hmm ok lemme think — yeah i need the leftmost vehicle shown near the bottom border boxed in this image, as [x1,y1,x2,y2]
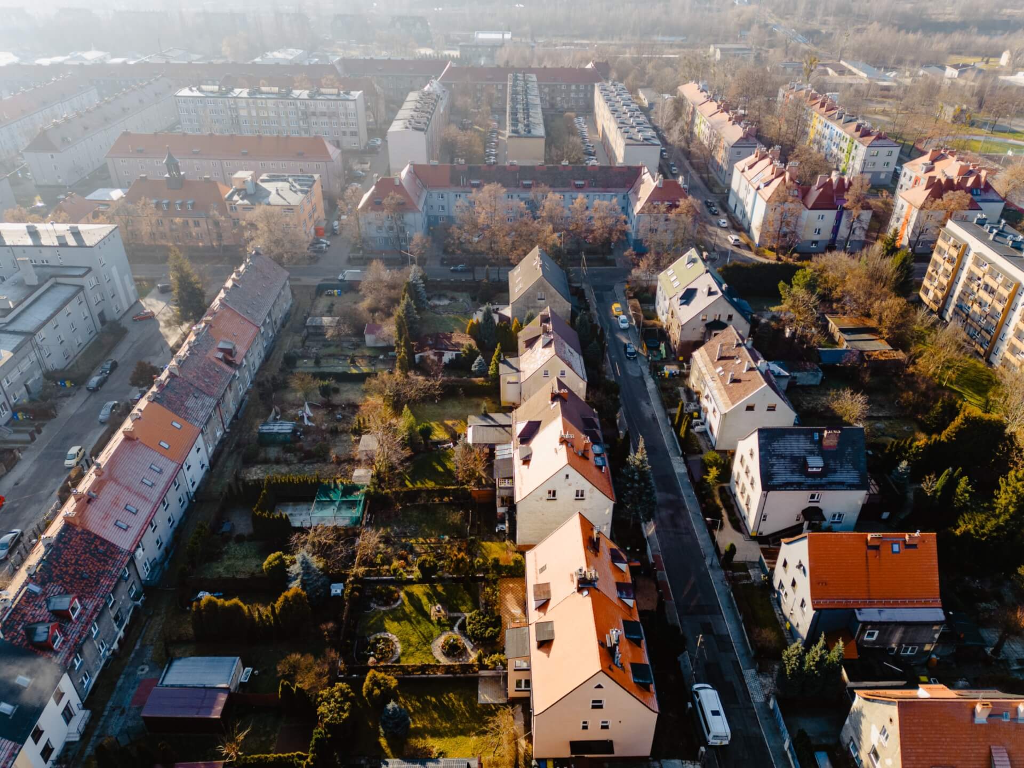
[694,686,733,745]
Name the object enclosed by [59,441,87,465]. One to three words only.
car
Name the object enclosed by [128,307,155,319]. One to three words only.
vehicle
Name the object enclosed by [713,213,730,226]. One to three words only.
vehicle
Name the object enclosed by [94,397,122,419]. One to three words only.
car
